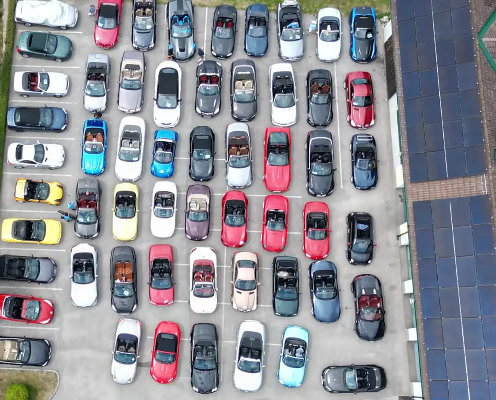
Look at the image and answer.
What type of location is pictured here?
parking lot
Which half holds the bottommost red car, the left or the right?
left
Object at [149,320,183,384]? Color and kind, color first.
red car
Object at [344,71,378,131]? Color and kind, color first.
red car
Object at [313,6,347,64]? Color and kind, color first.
white car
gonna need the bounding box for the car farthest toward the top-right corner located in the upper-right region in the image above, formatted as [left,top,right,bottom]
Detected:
[348,6,381,64]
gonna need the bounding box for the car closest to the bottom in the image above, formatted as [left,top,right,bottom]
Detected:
[321,361,387,397]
